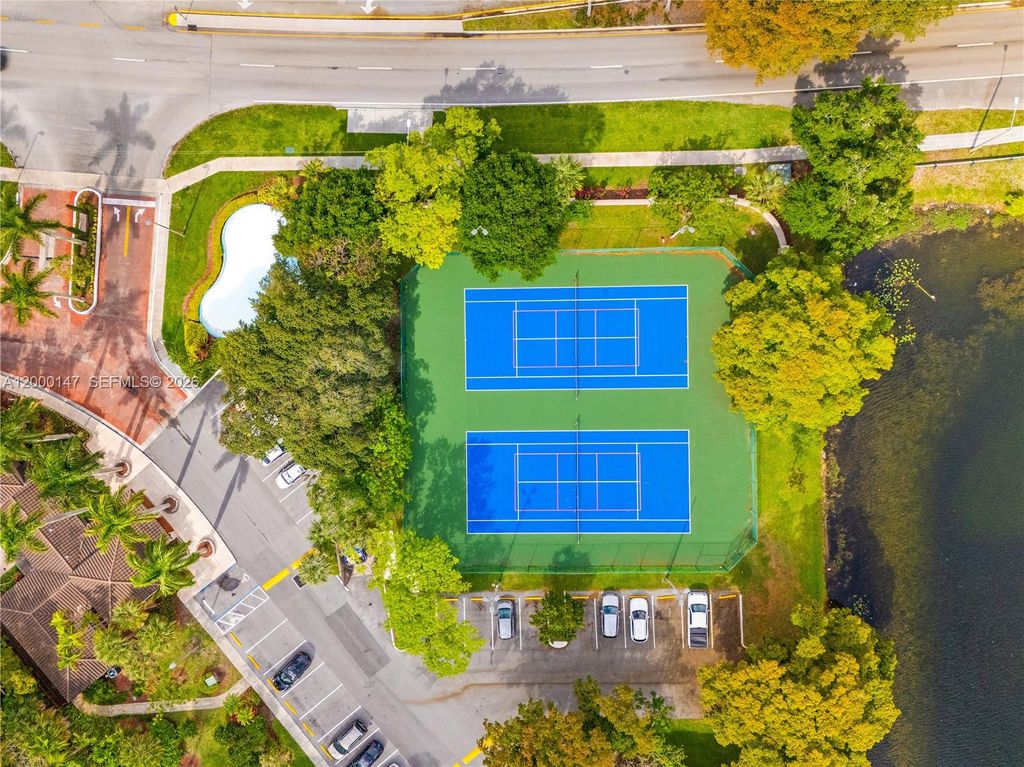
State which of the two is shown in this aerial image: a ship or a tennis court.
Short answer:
tennis court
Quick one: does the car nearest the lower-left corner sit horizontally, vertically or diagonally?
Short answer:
diagonally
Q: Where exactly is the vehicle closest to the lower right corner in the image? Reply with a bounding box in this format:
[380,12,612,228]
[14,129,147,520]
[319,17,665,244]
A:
[686,590,710,648]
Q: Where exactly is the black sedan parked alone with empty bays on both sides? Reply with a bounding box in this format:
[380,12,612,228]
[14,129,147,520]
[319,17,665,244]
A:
[272,652,313,689]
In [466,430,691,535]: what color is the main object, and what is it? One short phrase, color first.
blue tennis court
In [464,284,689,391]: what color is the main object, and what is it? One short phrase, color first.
blue tennis court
